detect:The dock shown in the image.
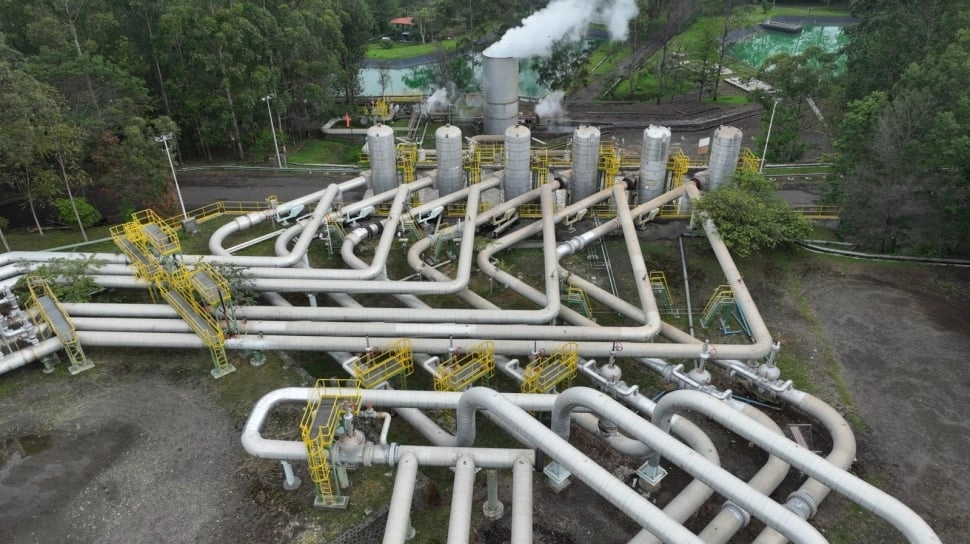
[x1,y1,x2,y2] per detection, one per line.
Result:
[760,12,805,37]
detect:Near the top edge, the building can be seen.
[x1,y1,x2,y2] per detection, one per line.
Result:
[385,11,417,39]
